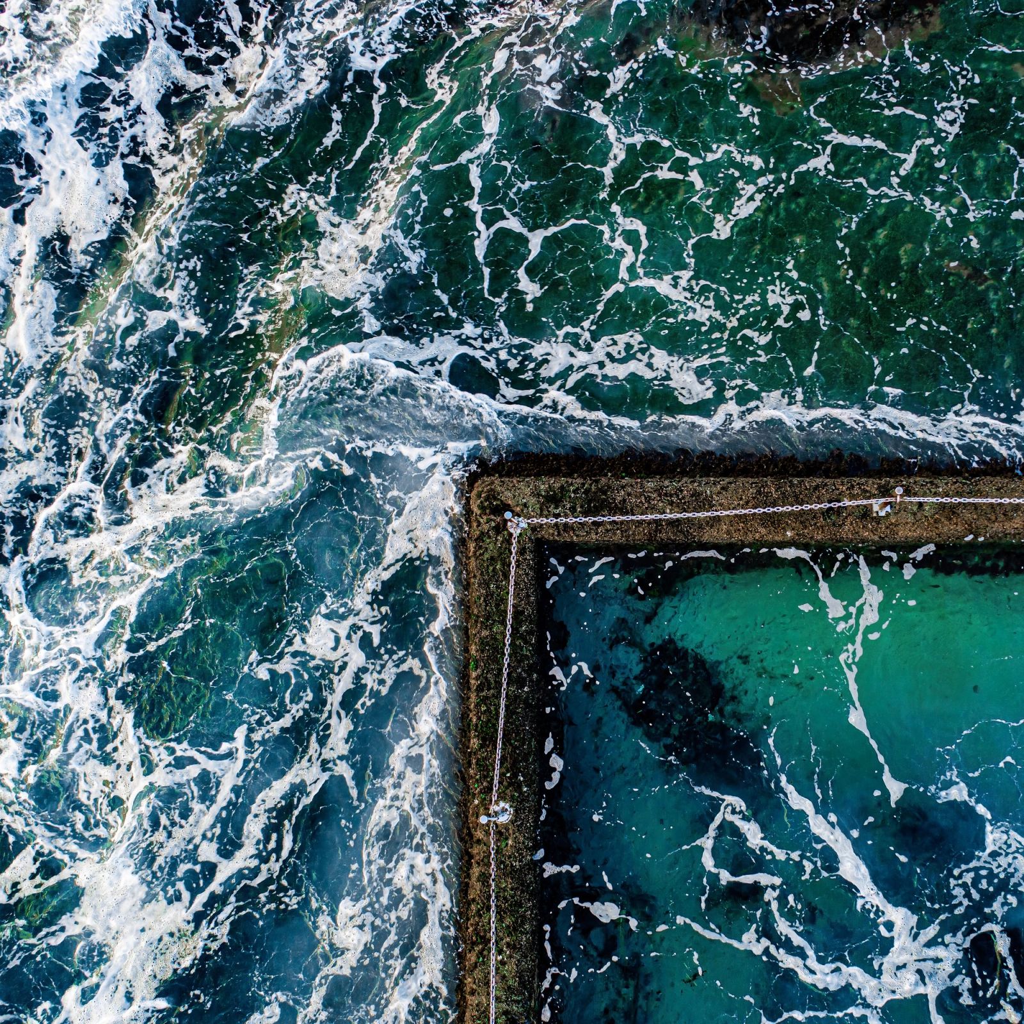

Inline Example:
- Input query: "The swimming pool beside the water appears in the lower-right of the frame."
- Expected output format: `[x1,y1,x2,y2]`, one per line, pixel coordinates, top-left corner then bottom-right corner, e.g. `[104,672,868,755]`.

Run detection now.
[538,544,1024,1024]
